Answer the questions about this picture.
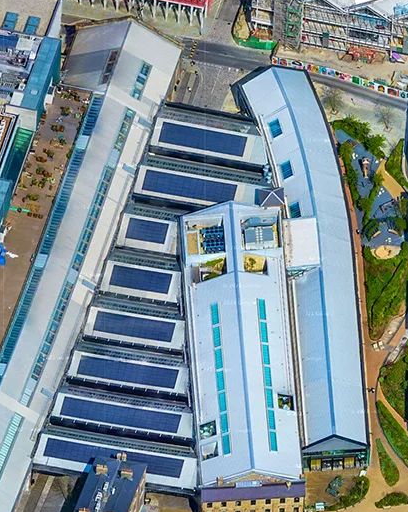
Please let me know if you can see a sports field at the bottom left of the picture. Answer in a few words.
Yes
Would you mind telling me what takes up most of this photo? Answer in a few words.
buildings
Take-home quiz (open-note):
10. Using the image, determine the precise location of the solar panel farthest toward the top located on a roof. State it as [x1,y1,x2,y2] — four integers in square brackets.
[159,121,247,156]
